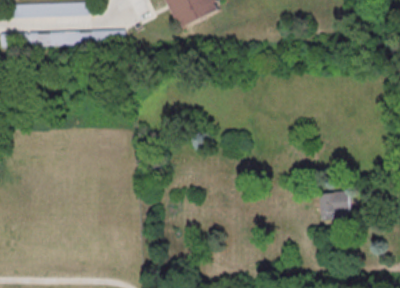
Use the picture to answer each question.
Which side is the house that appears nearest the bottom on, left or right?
right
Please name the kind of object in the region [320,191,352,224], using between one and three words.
house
